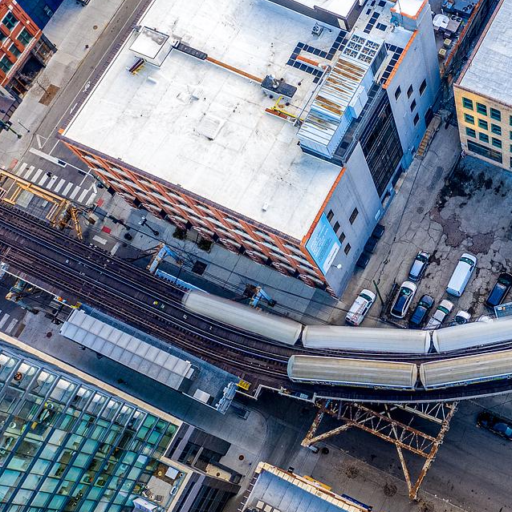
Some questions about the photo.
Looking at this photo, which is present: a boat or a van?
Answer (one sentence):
The one in the frame is a van.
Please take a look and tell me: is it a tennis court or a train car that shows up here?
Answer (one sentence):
Looking from above, you can make out a train car.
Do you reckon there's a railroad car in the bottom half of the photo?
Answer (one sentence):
Yes, a railroad car is visible in the bottom half of the photo.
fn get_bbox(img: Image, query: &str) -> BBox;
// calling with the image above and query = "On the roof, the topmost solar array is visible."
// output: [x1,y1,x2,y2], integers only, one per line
[363,0,389,33]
